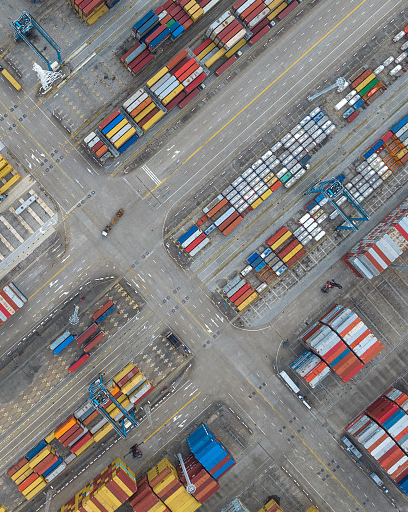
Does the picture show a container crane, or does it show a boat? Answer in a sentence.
This aerial view contains a container crane.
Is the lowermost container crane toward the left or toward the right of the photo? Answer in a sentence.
The lowermost container crane sits on the left side.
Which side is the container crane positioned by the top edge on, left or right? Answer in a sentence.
The container crane positioned by the top edge is on the left side of the image.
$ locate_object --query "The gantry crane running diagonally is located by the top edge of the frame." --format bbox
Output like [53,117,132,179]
[9,7,66,75]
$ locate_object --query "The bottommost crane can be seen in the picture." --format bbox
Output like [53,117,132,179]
[87,371,144,443]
